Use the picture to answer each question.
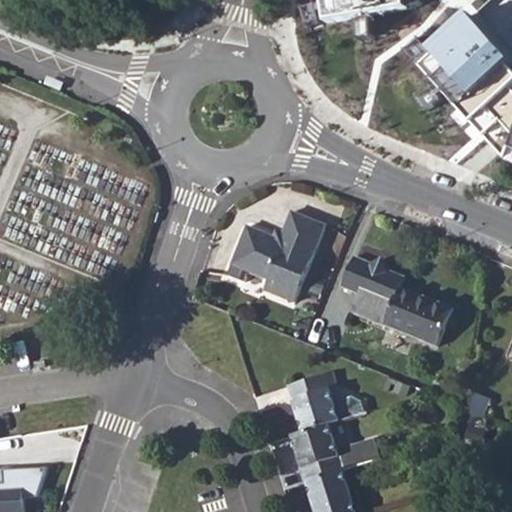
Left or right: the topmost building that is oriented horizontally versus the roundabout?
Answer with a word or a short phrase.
to its right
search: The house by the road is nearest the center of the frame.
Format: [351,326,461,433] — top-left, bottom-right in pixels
[228,211,326,304]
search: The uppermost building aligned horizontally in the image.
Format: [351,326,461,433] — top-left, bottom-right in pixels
[318,0,405,38]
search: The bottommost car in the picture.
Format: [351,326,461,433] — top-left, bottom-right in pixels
[198,488,222,502]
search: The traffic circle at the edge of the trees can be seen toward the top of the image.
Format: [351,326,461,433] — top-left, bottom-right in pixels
[133,25,314,222]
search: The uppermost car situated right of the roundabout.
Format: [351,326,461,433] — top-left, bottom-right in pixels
[431,174,454,188]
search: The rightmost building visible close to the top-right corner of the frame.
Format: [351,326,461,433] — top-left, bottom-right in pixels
[416,10,512,163]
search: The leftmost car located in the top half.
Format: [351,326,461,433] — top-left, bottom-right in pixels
[213,177,232,196]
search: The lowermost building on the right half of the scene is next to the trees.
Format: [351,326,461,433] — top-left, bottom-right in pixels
[285,457,356,512]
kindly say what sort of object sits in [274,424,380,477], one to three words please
house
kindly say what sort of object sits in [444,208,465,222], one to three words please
car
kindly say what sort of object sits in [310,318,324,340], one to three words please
car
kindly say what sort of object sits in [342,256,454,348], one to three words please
house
